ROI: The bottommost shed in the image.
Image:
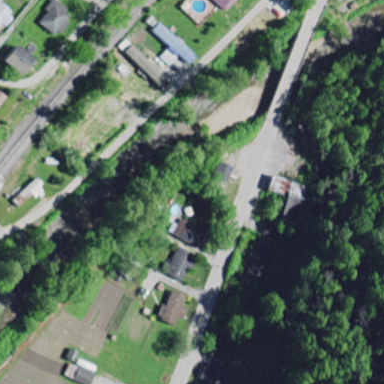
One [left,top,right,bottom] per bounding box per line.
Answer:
[64,364,94,384]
